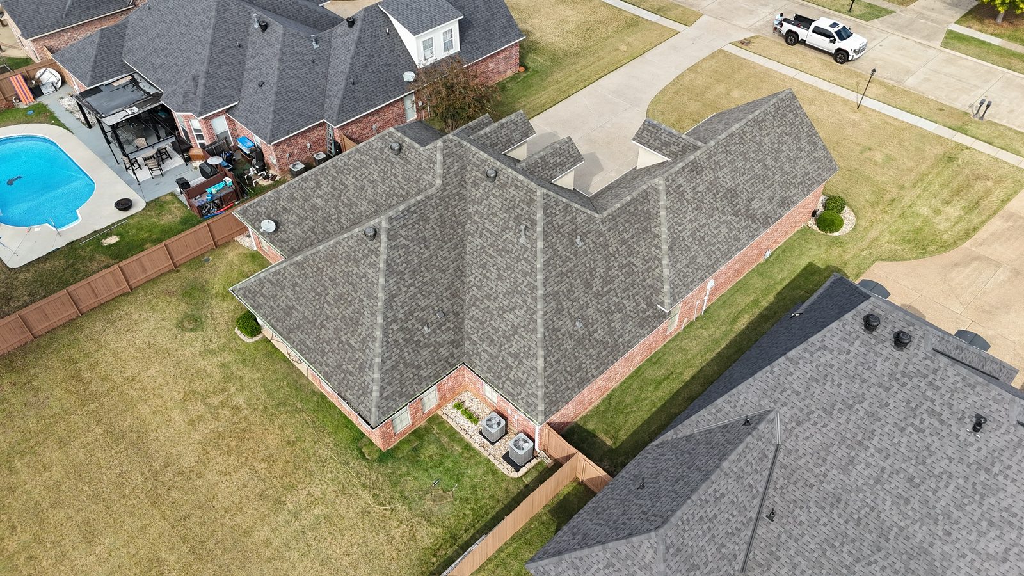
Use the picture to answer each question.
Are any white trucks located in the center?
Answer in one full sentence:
No, I can find no white truck in the center.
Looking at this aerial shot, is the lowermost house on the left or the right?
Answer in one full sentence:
The lowermost house appears in the right half of the scene.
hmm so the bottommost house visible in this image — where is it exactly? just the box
[524,277,1024,576]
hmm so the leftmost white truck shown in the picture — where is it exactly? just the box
[781,15,871,64]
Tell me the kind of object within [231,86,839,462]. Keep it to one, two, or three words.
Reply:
house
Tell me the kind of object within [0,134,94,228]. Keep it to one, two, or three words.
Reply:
swimming pool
